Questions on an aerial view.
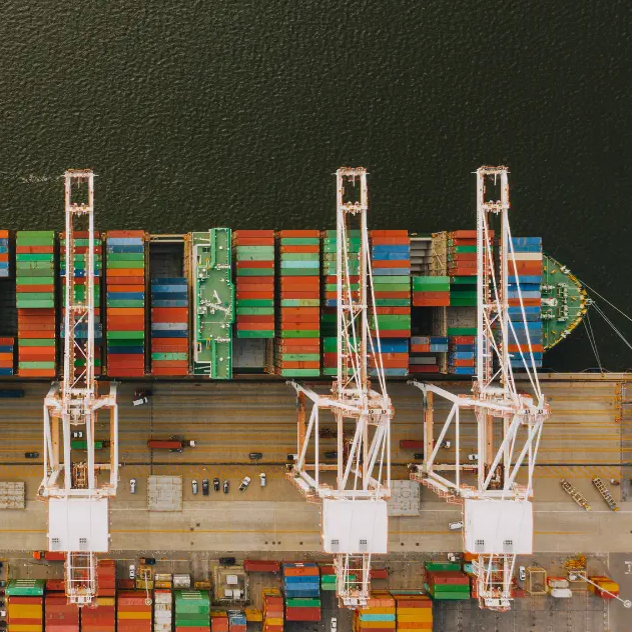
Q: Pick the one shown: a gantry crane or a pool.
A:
gantry crane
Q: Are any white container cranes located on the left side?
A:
Yes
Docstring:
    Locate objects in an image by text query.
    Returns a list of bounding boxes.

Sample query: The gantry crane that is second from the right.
[283,167,398,608]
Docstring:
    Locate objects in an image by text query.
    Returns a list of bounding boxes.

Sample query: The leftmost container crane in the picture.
[40,170,124,608]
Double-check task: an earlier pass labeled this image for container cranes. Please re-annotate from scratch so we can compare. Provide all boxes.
[404,166,552,608]
[283,167,398,608]
[40,170,124,608]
